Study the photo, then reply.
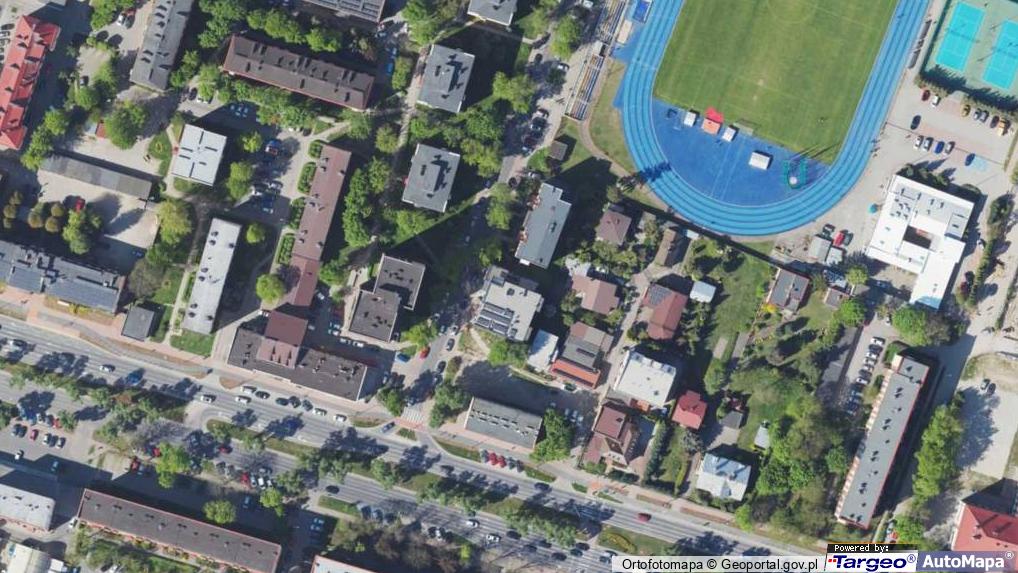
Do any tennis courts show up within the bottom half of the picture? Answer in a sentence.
No, no tennis court is visible within the bottom half of the picture.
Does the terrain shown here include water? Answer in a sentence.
No, the scene doesn't show any water.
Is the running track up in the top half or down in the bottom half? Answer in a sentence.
It is in the top half that the running track appears.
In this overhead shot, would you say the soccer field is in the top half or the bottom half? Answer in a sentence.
You can find the soccer field in the top half.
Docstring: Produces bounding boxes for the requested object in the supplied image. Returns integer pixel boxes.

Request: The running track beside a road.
[623,0,925,237]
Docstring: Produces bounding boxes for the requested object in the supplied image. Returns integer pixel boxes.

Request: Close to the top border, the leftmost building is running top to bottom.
[0,13,52,152]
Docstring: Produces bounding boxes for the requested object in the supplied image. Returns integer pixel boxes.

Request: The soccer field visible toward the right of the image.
[653,0,894,163]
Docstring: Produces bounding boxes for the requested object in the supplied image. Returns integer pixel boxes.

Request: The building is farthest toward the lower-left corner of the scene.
[5,544,49,573]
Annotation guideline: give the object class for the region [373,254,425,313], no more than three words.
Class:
building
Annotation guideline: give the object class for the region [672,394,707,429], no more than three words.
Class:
house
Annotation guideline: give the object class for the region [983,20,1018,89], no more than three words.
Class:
tennis court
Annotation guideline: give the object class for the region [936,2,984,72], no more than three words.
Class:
tennis court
